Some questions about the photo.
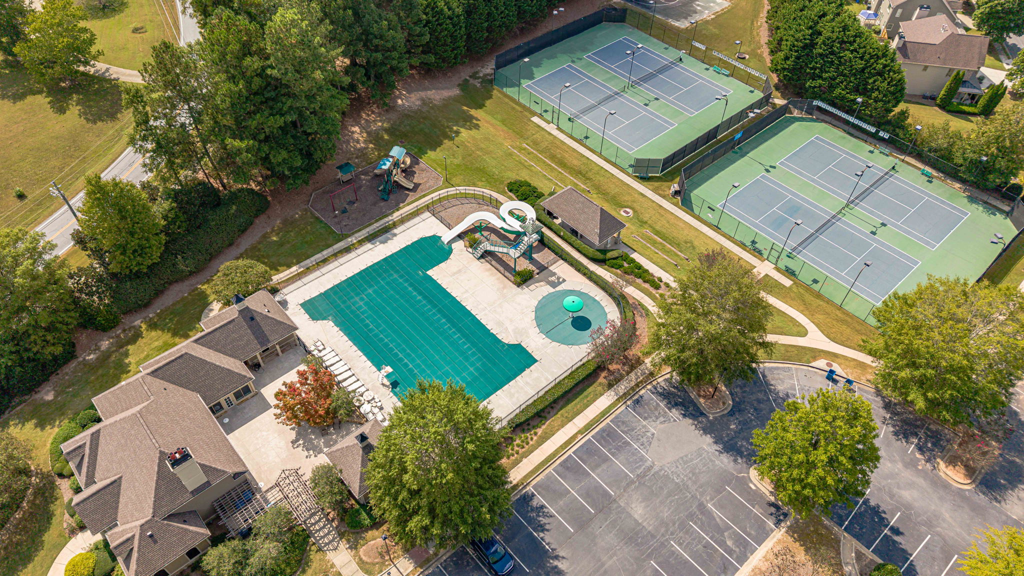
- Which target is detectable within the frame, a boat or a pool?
pool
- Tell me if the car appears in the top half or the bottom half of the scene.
bottom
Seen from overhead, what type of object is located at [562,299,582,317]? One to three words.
fountain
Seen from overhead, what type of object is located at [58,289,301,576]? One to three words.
building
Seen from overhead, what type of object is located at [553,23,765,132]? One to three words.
tennis court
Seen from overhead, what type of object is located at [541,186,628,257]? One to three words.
building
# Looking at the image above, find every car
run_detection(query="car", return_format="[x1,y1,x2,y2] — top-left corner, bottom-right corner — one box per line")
[469,525,516,576]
